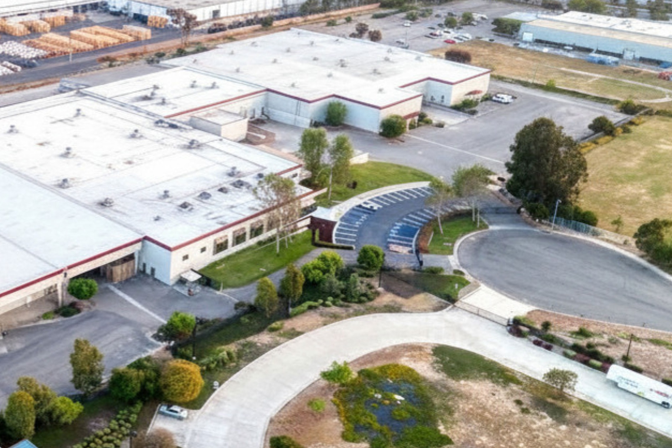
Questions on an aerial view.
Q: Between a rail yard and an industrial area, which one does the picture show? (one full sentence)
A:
This image shows an industrial area.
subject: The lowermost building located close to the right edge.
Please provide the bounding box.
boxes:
[516,14,672,74]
